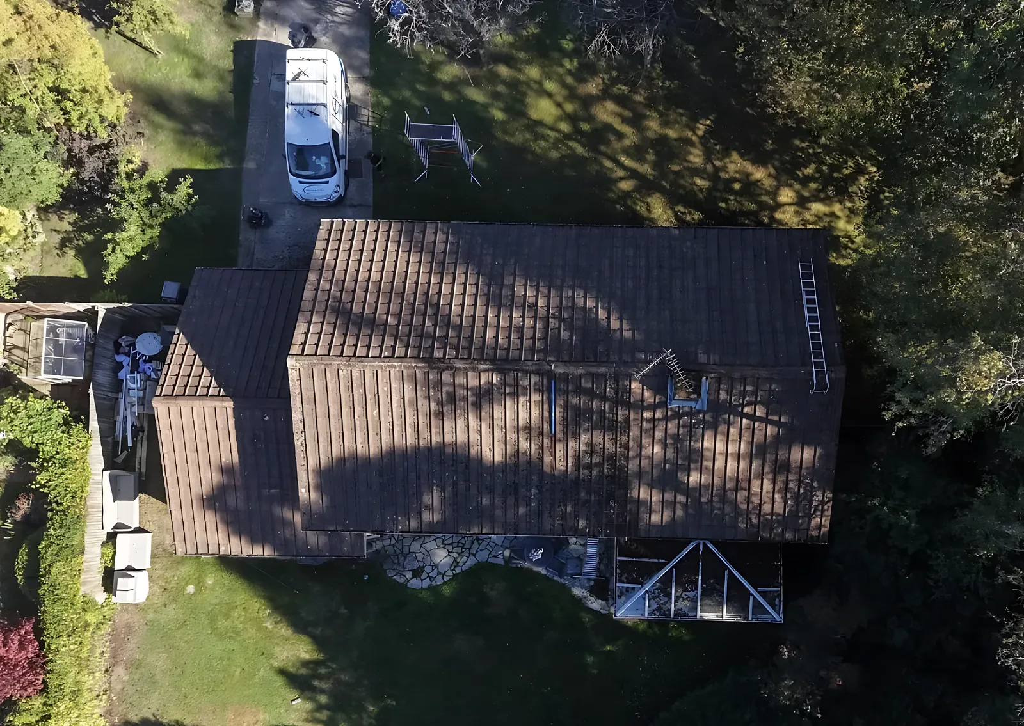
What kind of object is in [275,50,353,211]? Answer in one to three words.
van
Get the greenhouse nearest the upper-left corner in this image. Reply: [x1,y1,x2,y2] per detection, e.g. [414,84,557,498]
[45,318,98,385]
